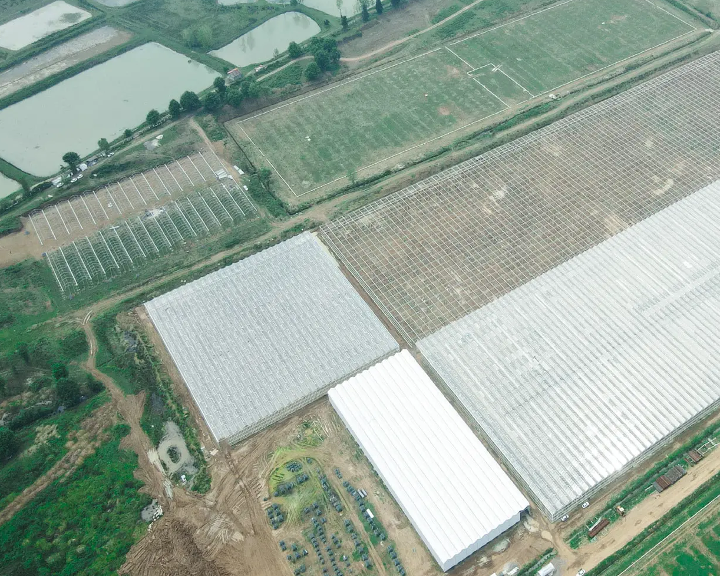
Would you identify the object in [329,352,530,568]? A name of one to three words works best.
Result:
greenhouse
